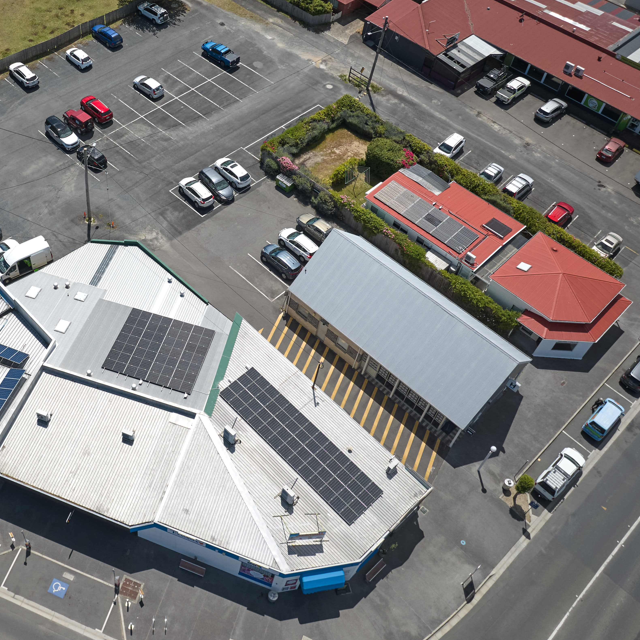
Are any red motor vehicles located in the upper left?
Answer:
Yes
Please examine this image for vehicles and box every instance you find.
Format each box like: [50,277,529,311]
[437,128,470,159]
[78,95,114,123]
[173,176,218,211]
[134,74,168,98]
[256,240,308,278]
[504,169,540,195]
[472,66,514,94]
[199,39,243,68]
[58,105,96,135]
[8,62,41,90]
[211,156,255,189]
[274,224,322,261]
[194,164,237,203]
[0,230,55,280]
[90,24,124,48]
[72,143,112,171]
[539,196,583,226]
[593,136,629,163]
[43,116,79,149]
[288,208,349,243]
[532,96,571,123]
[64,47,94,70]
[483,157,513,181]
[616,352,640,396]
[530,440,593,504]
[492,75,535,103]
[587,227,631,263]
[578,393,630,445]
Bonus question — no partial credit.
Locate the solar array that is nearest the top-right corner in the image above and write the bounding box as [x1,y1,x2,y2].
[375,181,478,253]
